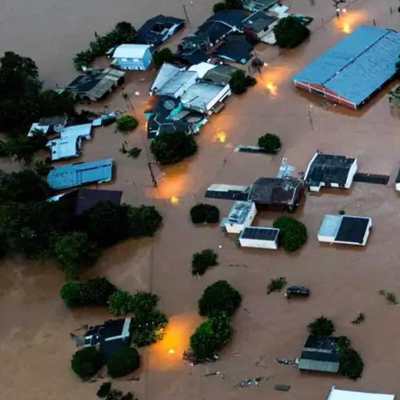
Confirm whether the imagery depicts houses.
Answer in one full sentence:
Yes, I can see a house in this picture.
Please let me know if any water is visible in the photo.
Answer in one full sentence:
Yes, there is water in the image.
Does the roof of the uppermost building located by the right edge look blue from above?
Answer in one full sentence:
Yes, the roof of the uppermost building located by the right edge is blue.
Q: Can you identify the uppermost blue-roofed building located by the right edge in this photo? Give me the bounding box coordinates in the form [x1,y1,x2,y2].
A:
[292,26,400,113]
